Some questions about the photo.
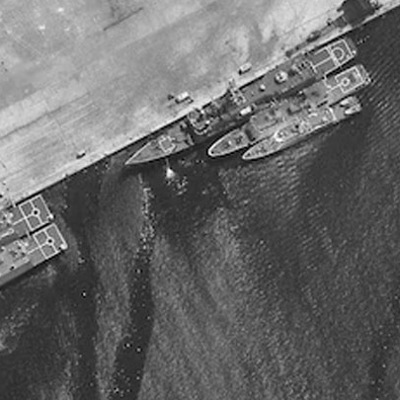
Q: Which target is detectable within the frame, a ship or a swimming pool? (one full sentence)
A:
Looking from above, you can make out a ship.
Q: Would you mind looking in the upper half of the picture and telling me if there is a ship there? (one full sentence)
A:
Yes, the scene does show a ship in the upper half of the picture.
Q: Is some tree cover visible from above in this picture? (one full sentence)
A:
No, there's no tree cover in this view.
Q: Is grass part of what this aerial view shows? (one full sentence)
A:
No, the scene doesn't show any grass.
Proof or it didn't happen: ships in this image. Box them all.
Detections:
[0,194,52,250]
[126,34,358,169]
[243,97,363,162]
[0,225,67,291]
[209,63,372,160]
